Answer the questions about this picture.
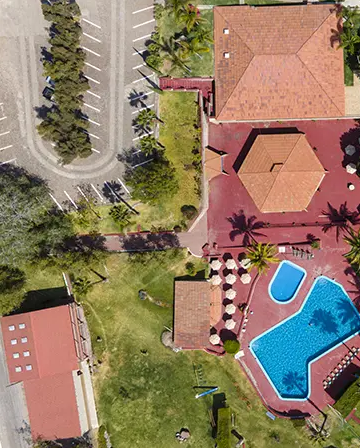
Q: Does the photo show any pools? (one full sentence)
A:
Yes, a pool appears in the view.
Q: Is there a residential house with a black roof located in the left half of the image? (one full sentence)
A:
No, the scene shows no residential house with a black roof in the left half of the image.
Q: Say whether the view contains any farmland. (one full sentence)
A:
No, the picture contains no farmland.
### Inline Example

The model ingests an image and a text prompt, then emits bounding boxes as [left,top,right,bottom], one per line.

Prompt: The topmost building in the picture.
[214,0,360,124]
